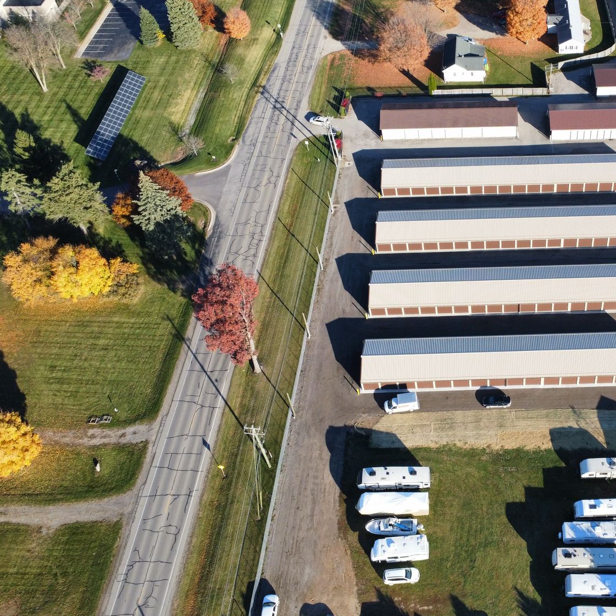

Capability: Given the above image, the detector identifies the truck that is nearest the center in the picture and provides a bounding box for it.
[384,392,422,418]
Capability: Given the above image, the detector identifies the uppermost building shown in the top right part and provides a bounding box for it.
[541,0,584,54]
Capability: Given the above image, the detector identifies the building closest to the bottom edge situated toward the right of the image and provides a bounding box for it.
[360,333,616,397]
